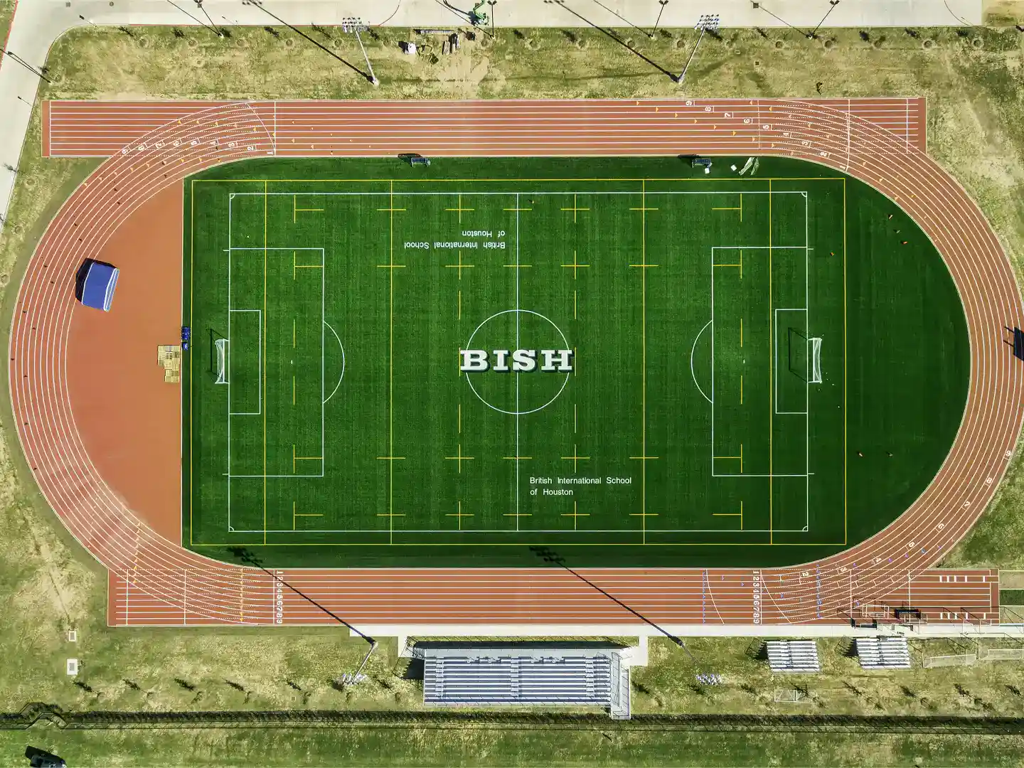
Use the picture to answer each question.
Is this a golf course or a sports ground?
sports ground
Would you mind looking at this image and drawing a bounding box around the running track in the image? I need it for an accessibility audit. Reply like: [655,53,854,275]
[8,97,1024,627]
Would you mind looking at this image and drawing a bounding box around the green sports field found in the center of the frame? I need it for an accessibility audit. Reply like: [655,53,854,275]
[183,158,968,566]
